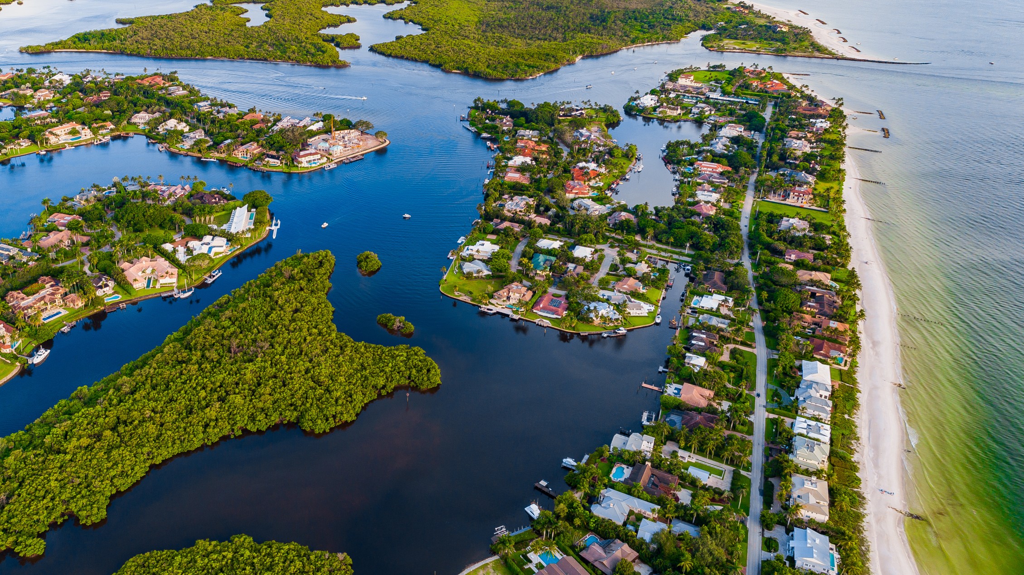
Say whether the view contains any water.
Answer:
Yes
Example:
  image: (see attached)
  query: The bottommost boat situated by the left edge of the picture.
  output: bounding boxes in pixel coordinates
[33,348,51,364]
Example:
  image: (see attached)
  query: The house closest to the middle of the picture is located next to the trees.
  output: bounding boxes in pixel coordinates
[491,282,536,306]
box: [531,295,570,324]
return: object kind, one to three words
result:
house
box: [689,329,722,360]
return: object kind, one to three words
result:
house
